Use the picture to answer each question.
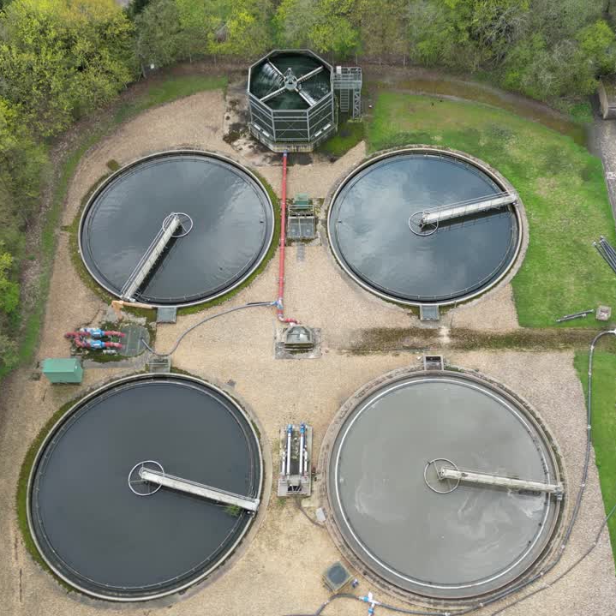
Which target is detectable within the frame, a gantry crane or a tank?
tank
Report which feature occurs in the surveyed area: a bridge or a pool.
bridge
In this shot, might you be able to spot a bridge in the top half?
Yes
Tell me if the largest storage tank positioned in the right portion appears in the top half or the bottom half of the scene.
bottom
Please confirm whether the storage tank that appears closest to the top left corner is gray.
Yes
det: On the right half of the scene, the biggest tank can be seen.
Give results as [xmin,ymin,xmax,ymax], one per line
[325,352,570,602]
